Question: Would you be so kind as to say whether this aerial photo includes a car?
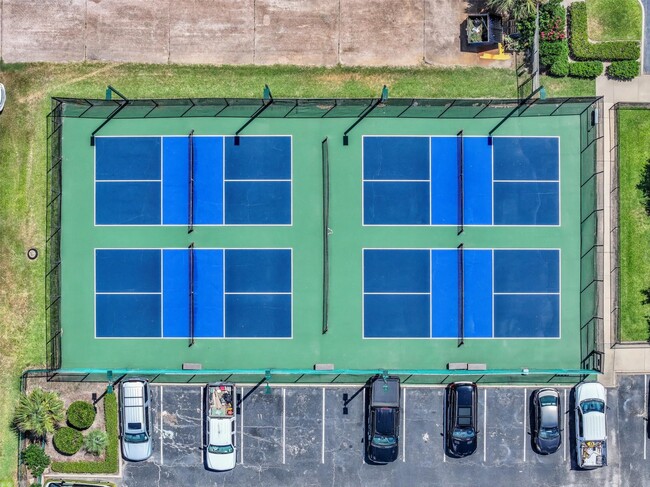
Yes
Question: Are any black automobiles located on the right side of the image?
Yes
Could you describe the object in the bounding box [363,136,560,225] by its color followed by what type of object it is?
blue sports court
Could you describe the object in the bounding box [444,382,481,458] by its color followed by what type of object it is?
black car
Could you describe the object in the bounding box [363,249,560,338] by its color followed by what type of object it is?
blue sports court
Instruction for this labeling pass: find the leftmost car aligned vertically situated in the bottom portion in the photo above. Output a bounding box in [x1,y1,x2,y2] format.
[117,379,154,461]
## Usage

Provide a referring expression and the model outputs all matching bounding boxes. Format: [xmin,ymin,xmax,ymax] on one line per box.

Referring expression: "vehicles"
[368,374,404,462]
[0,84,6,110]
[444,382,481,458]
[574,382,612,470]
[533,388,566,456]
[202,382,240,470]
[117,379,154,461]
